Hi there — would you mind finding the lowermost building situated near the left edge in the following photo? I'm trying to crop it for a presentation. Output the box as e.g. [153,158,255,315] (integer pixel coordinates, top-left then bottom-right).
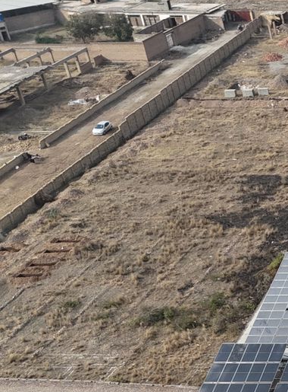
[0,48,92,120]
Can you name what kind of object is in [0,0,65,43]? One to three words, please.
building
